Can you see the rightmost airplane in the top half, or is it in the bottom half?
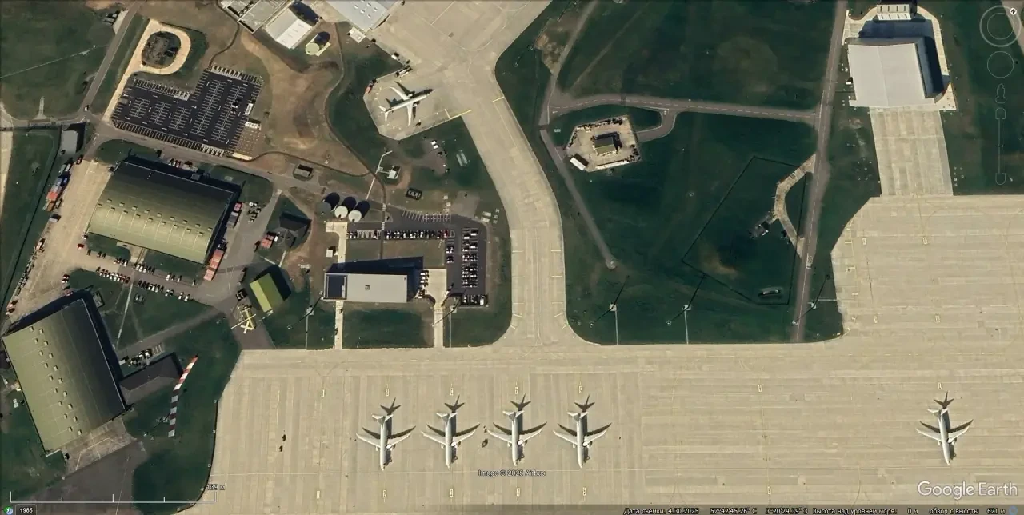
bottom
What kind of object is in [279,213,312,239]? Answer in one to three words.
shed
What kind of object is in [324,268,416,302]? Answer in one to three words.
building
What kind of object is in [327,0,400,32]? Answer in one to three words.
hangar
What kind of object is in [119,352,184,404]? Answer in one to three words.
building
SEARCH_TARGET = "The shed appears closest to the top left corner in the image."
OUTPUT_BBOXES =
[60,128,82,154]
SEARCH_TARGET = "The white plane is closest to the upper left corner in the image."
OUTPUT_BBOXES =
[375,86,431,126]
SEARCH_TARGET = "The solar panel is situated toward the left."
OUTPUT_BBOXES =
[326,277,345,298]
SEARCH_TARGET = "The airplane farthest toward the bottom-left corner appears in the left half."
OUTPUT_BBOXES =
[355,413,412,470]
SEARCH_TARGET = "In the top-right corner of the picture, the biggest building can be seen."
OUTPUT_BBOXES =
[848,37,940,106]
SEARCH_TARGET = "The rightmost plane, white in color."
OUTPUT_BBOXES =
[916,406,972,464]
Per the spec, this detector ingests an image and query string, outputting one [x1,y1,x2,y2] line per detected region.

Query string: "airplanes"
[375,86,431,126]
[916,406,972,464]
[487,409,543,466]
[355,413,412,470]
[551,410,608,467]
[420,411,477,468]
